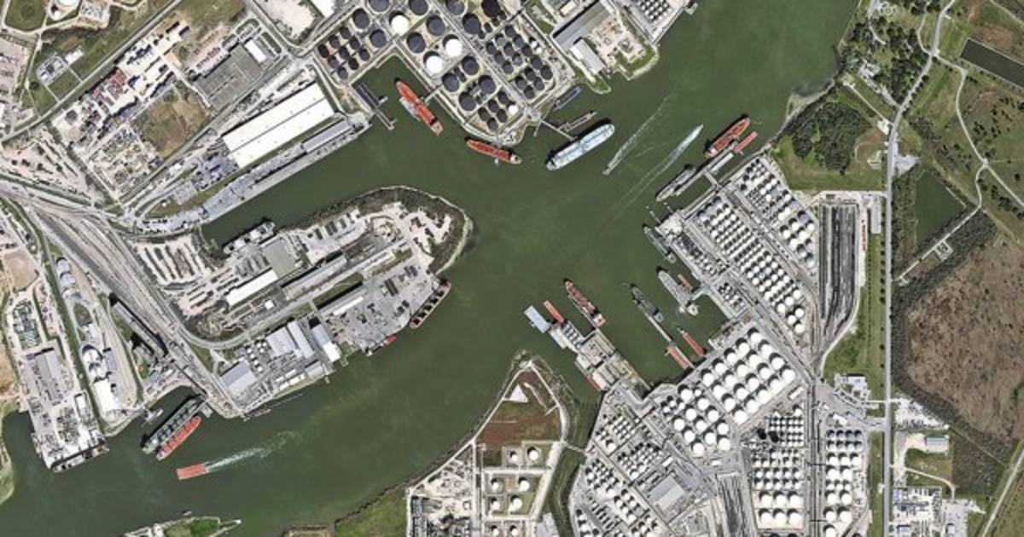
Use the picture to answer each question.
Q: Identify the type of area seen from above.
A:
port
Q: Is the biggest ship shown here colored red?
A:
No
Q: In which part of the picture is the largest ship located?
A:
top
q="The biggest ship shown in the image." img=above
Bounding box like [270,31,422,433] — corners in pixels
[545,122,614,171]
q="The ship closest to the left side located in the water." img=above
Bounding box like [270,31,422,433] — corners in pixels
[53,449,109,472]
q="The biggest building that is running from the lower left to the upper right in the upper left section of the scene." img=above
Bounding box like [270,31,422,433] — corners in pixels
[222,82,337,170]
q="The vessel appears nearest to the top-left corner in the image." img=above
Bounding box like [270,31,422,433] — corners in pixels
[224,221,276,253]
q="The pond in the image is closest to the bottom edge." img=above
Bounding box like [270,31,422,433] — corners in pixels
[916,174,965,243]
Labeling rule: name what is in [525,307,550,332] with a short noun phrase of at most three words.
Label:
ship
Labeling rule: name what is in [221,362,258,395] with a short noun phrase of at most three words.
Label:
building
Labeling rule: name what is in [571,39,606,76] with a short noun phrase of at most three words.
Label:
building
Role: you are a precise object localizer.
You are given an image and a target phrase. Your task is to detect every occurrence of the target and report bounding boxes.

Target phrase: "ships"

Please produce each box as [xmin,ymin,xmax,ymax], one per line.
[711,153,735,172]
[565,281,605,328]
[667,343,688,369]
[224,221,276,253]
[657,166,697,200]
[705,117,750,158]
[563,113,591,130]
[525,307,550,332]
[657,270,691,312]
[553,87,581,112]
[467,139,521,163]
[141,399,201,452]
[156,418,200,460]
[683,333,704,356]
[396,81,443,135]
[410,281,451,327]
[545,122,614,171]
[631,286,664,324]
[399,97,421,122]
[53,449,109,472]
[356,88,378,109]
[545,301,563,324]
[734,133,757,151]
[177,468,206,478]
[645,227,670,256]
[176,464,205,474]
